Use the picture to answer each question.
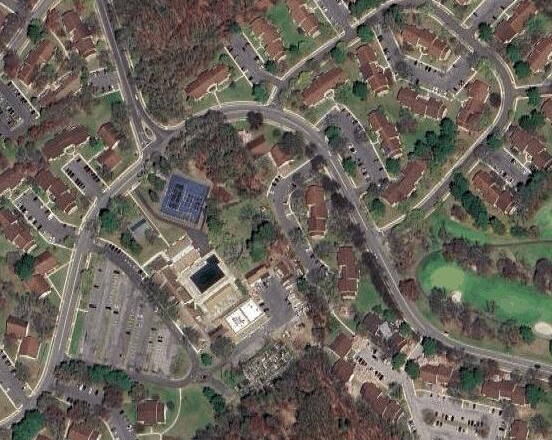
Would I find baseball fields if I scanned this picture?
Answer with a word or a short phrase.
No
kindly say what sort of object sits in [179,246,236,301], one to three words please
swimming pool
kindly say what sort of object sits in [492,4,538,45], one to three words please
building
